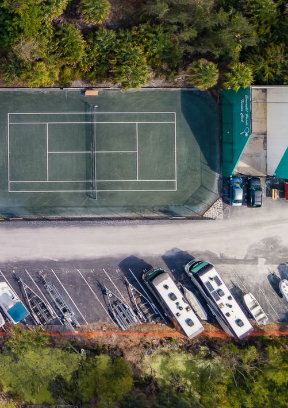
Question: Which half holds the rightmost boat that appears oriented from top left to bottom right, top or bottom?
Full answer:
The rightmost boat that appears oriented from top left to bottom right sits in the bottom half of the picture.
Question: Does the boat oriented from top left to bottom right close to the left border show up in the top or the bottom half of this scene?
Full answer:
Seen from above, the boat oriented from top left to bottom right close to the left border lies in the bottom half of the view.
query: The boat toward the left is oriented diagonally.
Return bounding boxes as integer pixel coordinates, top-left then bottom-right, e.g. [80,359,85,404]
[0,282,30,324]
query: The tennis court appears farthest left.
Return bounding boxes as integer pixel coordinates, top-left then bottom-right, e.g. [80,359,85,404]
[0,89,219,220]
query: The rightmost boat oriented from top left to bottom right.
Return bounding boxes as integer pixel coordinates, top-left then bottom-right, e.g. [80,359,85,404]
[246,293,268,323]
